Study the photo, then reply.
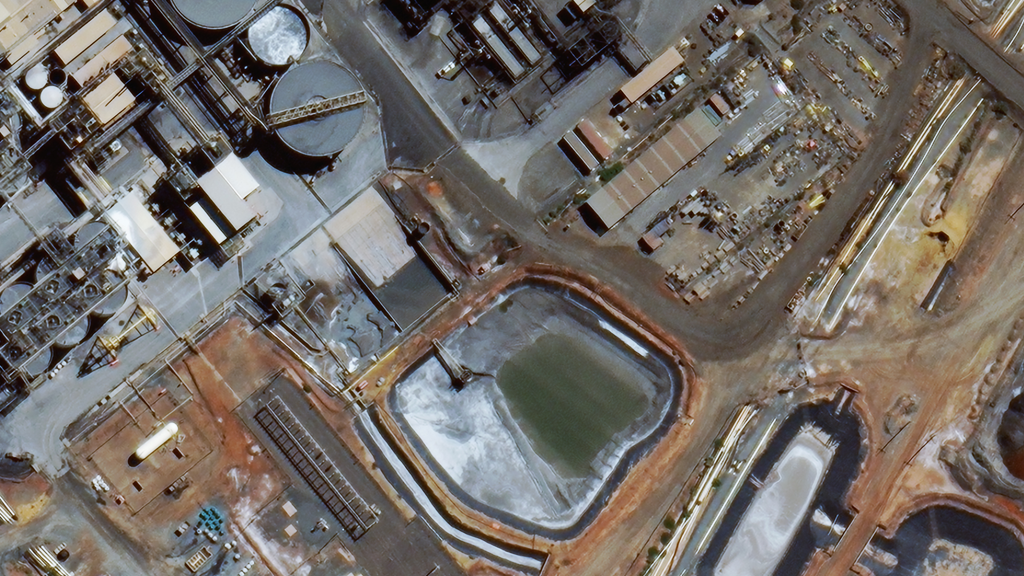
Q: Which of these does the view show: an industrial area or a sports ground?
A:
industrial area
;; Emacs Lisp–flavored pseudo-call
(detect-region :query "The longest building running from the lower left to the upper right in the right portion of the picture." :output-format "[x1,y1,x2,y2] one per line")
[586,106,723,229]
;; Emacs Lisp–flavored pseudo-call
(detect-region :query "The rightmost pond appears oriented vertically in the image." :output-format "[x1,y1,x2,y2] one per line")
[997,380,1024,488]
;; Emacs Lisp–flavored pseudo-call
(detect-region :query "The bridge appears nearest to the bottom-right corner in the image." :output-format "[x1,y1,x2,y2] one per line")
[822,506,887,572]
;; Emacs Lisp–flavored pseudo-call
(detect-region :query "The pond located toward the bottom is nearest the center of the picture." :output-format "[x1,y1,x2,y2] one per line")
[387,275,686,542]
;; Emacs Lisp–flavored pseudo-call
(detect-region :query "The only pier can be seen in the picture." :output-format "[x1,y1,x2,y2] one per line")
[433,343,474,385]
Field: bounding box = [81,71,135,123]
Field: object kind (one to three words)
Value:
building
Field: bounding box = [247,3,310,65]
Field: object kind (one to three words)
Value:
storage tank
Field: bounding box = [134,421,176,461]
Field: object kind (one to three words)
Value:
storage tank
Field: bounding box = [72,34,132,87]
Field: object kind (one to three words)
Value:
shed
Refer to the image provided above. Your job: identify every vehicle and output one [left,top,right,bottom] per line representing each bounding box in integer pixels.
[357,380,369,390]
[377,376,383,386]
[680,35,694,48]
